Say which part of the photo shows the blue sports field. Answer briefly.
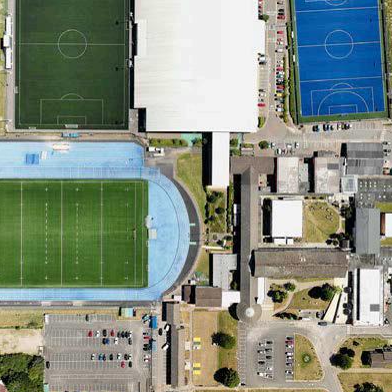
top right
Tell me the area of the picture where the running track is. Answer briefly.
left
